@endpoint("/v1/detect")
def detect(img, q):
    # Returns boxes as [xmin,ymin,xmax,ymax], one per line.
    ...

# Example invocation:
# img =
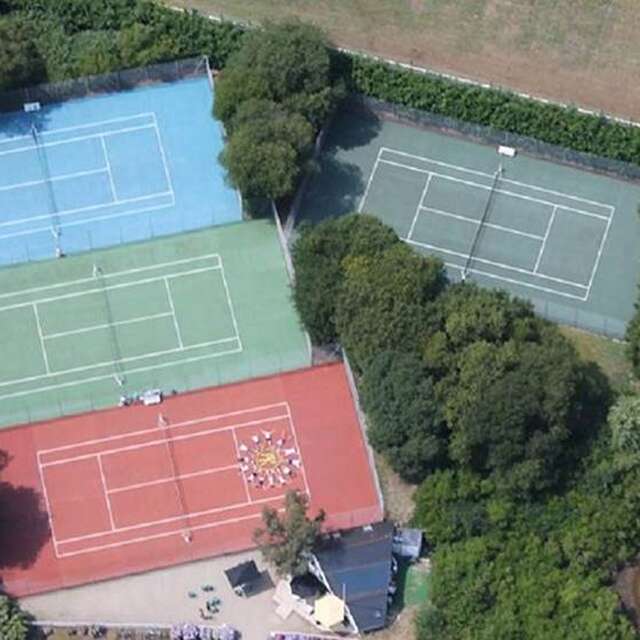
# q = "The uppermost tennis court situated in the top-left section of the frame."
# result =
[0,81,242,266]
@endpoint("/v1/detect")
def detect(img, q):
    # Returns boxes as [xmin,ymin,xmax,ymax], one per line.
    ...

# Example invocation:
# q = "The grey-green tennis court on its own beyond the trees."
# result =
[288,107,640,340]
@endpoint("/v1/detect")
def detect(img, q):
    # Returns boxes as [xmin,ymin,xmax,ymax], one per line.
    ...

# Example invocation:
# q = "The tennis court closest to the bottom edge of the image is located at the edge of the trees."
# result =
[0,361,382,595]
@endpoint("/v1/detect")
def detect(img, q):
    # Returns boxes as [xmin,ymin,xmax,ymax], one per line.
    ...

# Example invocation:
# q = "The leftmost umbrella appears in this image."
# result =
[225,562,261,589]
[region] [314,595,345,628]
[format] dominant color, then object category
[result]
white umbrella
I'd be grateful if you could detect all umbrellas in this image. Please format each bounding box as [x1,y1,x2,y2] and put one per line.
[314,595,345,628]
[286,573,321,603]
[225,562,261,589]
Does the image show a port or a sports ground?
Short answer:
sports ground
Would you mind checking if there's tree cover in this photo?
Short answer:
Yes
